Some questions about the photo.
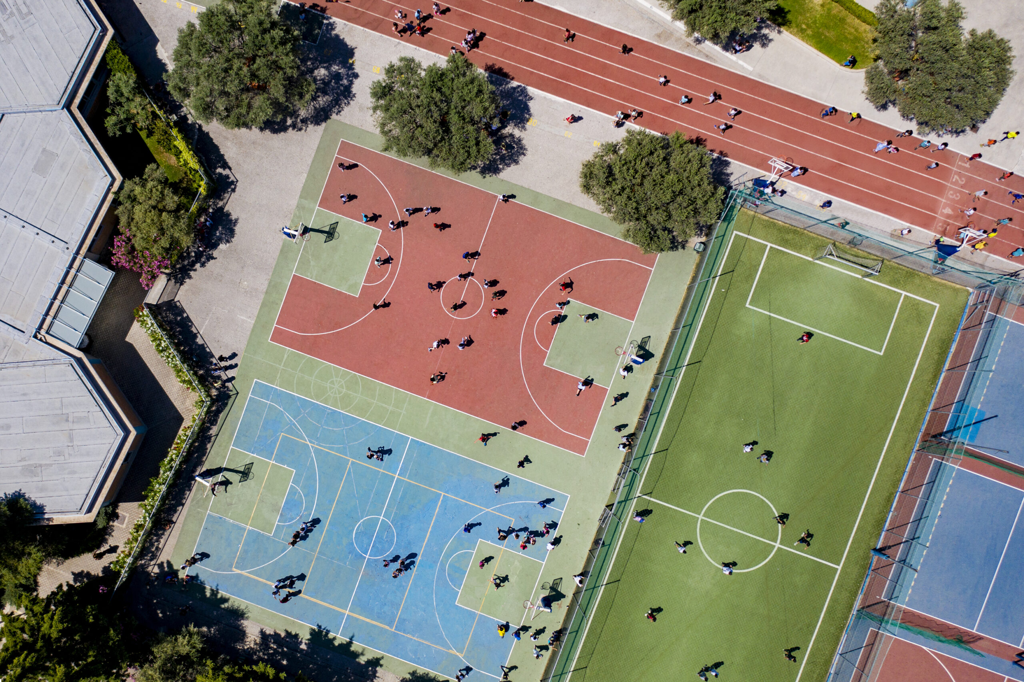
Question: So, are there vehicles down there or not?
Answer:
No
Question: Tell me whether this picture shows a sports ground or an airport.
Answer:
sports ground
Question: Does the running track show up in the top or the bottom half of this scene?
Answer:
top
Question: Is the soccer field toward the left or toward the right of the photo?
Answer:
right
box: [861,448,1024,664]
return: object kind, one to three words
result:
sports court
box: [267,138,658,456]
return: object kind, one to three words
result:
basketball court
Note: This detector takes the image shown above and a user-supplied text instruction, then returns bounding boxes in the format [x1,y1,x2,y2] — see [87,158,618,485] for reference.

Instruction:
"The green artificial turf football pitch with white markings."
[541,205,971,682]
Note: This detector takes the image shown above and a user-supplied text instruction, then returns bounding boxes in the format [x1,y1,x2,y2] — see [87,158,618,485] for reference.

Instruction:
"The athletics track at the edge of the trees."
[288,0,1024,268]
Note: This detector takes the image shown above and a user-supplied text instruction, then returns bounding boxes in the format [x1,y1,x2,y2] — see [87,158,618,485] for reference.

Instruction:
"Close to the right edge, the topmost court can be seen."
[921,292,1024,481]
